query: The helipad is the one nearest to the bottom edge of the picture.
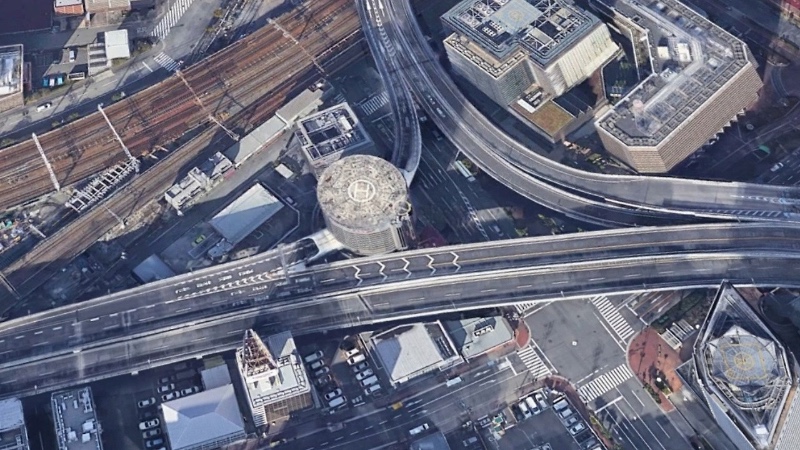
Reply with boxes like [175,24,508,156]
[710,330,777,390]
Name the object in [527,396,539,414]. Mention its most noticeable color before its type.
white vehicle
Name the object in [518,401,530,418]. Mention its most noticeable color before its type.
white vehicle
